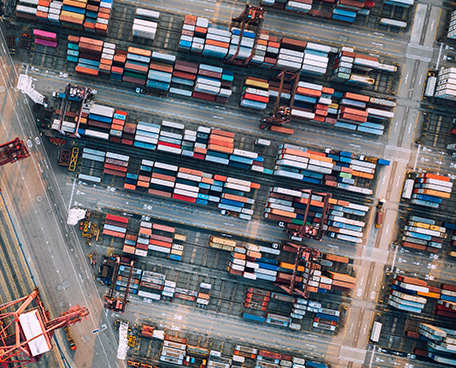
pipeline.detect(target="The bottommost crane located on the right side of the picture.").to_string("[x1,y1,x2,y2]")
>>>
[273,240,317,295]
